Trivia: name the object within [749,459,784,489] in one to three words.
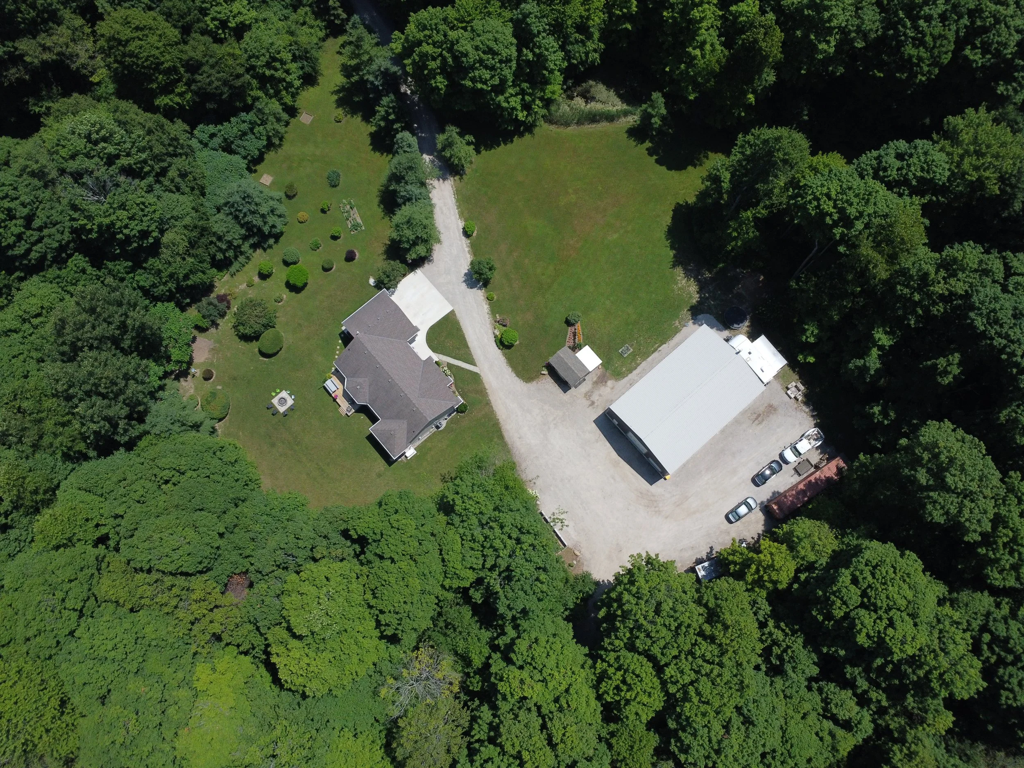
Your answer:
car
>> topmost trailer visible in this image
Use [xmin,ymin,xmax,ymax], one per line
[724,335,788,384]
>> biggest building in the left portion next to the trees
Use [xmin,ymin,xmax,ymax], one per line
[334,288,463,460]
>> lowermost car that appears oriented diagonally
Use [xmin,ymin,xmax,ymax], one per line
[723,496,757,526]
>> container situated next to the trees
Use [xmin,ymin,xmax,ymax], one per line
[766,457,850,520]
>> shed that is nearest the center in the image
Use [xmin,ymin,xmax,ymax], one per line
[549,345,602,391]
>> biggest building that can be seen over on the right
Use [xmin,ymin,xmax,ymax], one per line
[605,323,767,478]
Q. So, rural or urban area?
rural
